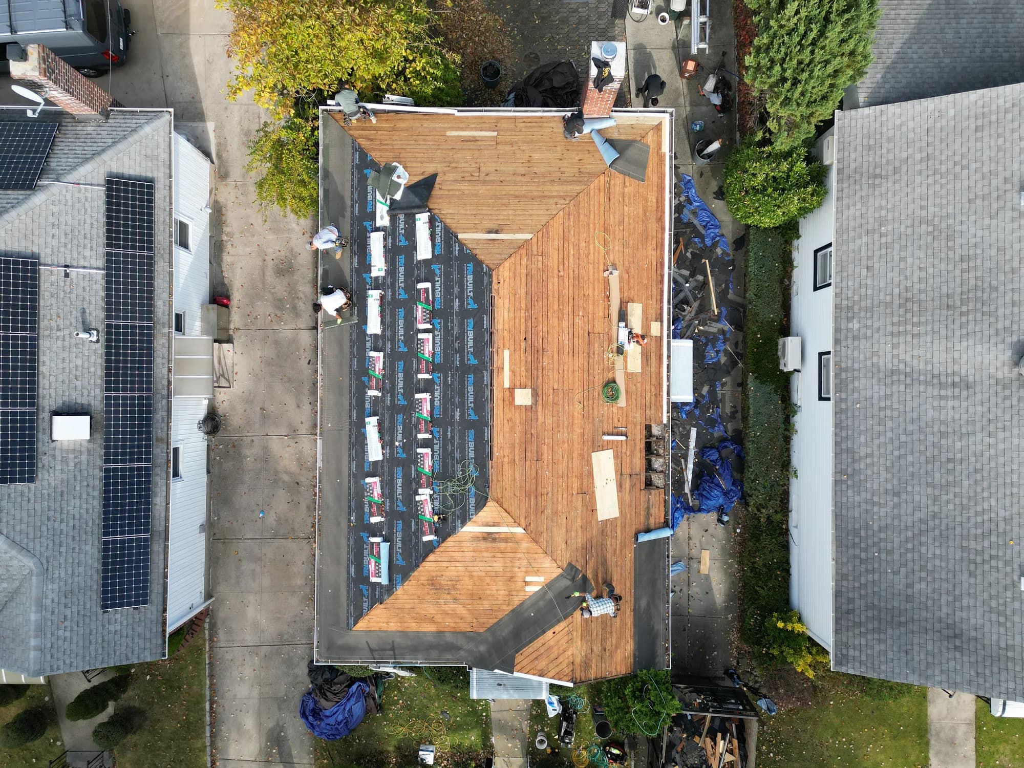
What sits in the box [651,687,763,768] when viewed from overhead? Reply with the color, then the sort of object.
black trailer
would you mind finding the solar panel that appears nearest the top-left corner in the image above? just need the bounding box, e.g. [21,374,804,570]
[0,121,61,191]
